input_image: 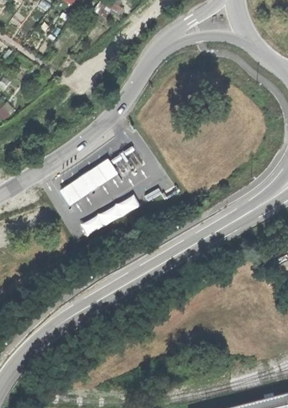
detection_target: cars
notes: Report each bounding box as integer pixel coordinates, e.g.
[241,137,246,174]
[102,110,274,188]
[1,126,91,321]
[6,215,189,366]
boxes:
[116,102,126,113]
[76,142,87,151]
